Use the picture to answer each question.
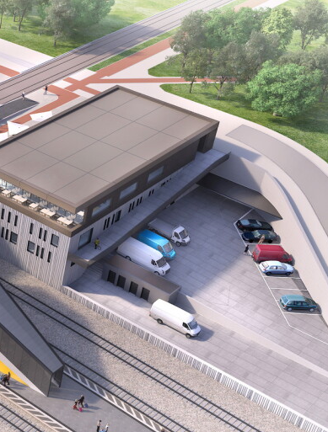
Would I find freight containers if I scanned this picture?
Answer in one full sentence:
No, I find no freight container anywhere in the image.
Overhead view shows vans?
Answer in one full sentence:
Yes, a van is visible in the scene.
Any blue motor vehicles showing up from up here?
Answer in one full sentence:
Yes, the picture does show a blue motor vehicle.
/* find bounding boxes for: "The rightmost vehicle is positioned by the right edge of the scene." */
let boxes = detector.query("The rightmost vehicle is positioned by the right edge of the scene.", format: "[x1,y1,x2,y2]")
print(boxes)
[279,293,319,309]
